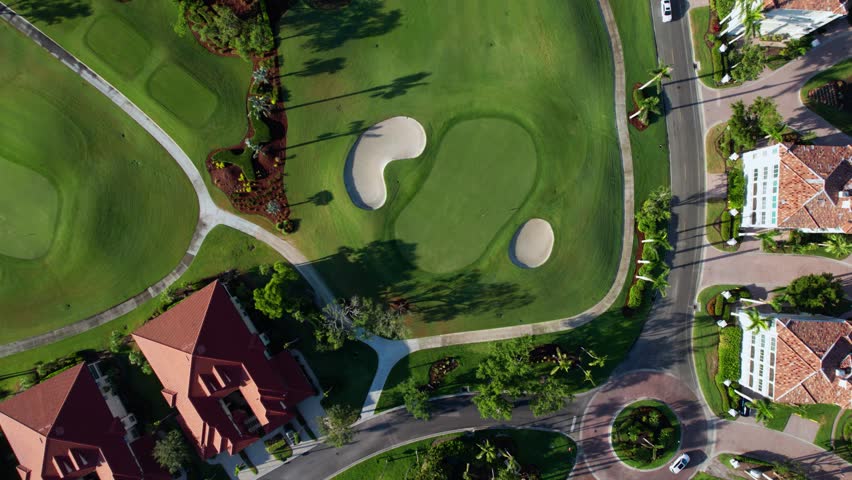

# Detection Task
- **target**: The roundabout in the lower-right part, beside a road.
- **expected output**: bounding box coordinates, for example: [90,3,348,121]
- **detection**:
[582,369,708,480]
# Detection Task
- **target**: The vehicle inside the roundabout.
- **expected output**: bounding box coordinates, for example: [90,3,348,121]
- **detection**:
[667,452,691,474]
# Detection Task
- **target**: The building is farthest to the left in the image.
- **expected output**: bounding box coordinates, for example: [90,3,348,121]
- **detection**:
[0,352,190,480]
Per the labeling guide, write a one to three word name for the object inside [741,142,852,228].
house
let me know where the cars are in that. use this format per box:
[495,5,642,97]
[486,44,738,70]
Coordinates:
[660,0,674,23]
[667,452,691,474]
[736,393,750,419]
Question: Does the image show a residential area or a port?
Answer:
residential area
